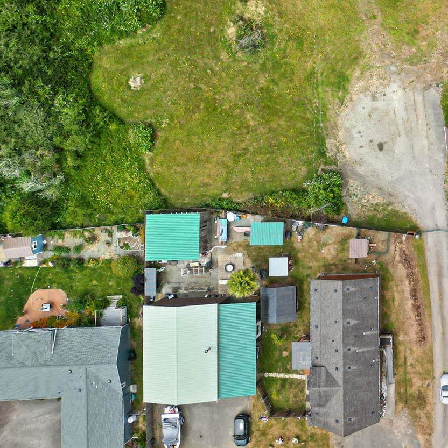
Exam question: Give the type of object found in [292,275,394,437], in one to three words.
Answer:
house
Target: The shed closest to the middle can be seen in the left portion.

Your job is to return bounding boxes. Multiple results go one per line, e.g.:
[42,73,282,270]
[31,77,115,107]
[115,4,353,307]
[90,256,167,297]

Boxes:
[144,211,206,261]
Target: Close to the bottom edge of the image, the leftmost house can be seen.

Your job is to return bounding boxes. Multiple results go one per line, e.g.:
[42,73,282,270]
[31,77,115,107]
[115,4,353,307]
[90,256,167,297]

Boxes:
[0,325,132,448]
